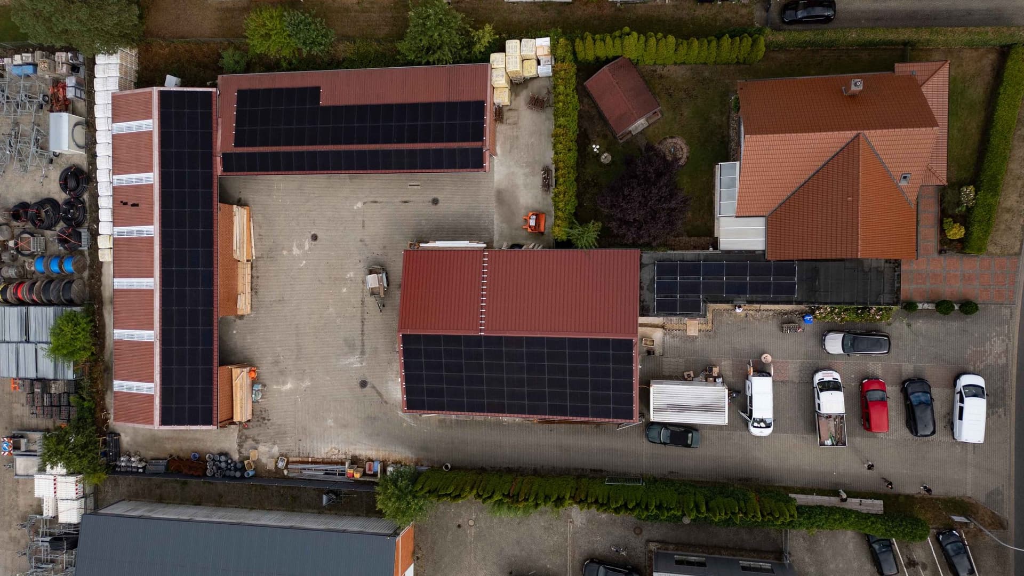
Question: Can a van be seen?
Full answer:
Yes, looking at the shot, I can spot a van.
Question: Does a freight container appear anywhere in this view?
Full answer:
Yes, the picture does show a freight container.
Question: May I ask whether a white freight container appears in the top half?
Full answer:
No, no white freight container is visible in the top half.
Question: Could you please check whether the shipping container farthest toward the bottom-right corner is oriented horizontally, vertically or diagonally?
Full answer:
The shipping container farthest toward the bottom-right corner is laid out horizontally.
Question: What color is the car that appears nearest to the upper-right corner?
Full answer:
The car that appears nearest to the upper-right corner looks black in the image.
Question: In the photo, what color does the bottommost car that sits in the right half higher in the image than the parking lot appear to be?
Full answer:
The color of the bottommost car that sits in the right half higher in the image than the parking lot is black.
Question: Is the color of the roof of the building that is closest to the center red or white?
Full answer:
The roof of the building that is closest to the center looks red in the image.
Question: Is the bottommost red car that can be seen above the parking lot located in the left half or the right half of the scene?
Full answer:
The bottommost red car that can be seen above the parking lot appears in the right half of the scene.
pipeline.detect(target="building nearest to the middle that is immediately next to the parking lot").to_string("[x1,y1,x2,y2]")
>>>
[397,247,643,425]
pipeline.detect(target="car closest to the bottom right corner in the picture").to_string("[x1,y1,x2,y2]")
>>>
[932,525,976,576]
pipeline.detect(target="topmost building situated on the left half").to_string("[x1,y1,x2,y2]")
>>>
[216,62,496,178]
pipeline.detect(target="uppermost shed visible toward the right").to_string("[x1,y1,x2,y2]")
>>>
[584,57,661,139]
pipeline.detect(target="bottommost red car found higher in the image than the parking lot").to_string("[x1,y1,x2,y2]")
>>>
[858,380,890,433]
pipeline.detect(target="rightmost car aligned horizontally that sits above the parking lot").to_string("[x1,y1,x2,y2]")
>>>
[821,328,889,358]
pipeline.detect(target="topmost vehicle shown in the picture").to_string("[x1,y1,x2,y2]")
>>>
[777,0,840,27]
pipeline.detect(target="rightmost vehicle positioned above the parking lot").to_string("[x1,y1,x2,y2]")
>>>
[947,374,987,442]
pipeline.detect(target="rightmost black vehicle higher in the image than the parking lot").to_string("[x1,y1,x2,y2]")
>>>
[899,379,936,437]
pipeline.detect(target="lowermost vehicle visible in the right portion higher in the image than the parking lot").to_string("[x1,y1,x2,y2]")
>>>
[645,422,700,449]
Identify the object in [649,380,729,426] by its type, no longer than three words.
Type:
shipping container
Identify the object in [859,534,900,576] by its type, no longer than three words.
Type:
car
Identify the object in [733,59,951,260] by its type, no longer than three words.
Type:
house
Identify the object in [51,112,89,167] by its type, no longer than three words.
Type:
trailer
